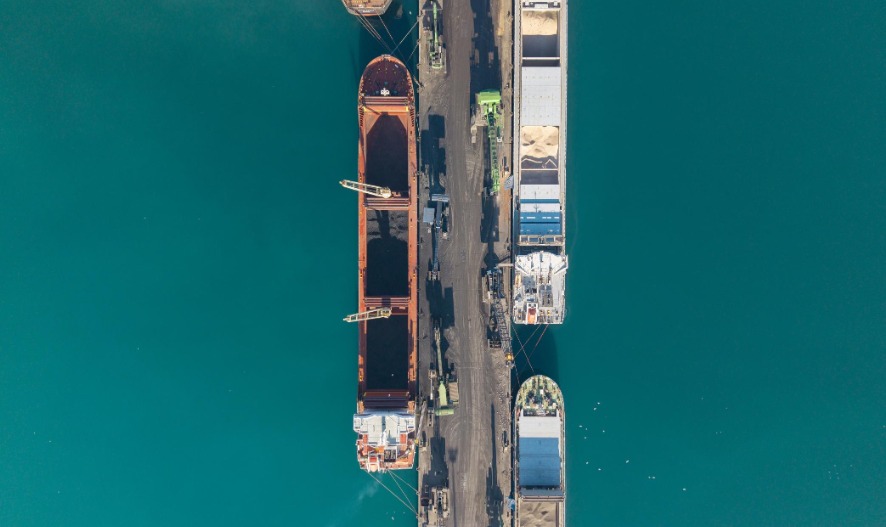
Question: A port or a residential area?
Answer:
port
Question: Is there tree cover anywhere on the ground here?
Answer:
No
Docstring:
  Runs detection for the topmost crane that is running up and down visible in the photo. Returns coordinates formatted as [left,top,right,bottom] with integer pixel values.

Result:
[427,0,449,74]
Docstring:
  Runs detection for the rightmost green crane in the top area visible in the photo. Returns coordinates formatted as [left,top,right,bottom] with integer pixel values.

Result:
[477,88,504,194]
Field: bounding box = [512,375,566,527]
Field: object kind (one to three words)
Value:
ship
